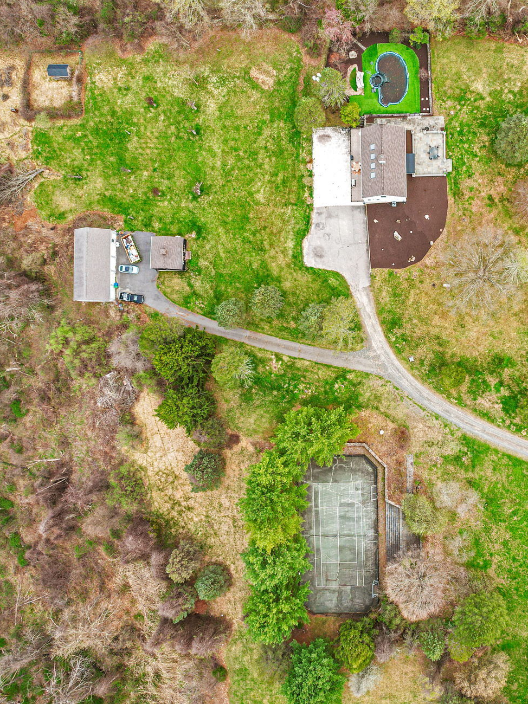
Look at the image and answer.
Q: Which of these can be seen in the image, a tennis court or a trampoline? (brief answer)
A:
tennis court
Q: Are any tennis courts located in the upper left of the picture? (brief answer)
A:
No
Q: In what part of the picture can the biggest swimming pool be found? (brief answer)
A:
top right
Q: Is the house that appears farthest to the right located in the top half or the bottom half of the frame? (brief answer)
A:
top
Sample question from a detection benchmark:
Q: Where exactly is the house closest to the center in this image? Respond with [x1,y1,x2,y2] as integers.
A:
[151,235,188,271]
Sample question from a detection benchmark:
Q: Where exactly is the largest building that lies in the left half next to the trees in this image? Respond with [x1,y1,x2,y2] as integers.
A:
[74,226,116,300]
